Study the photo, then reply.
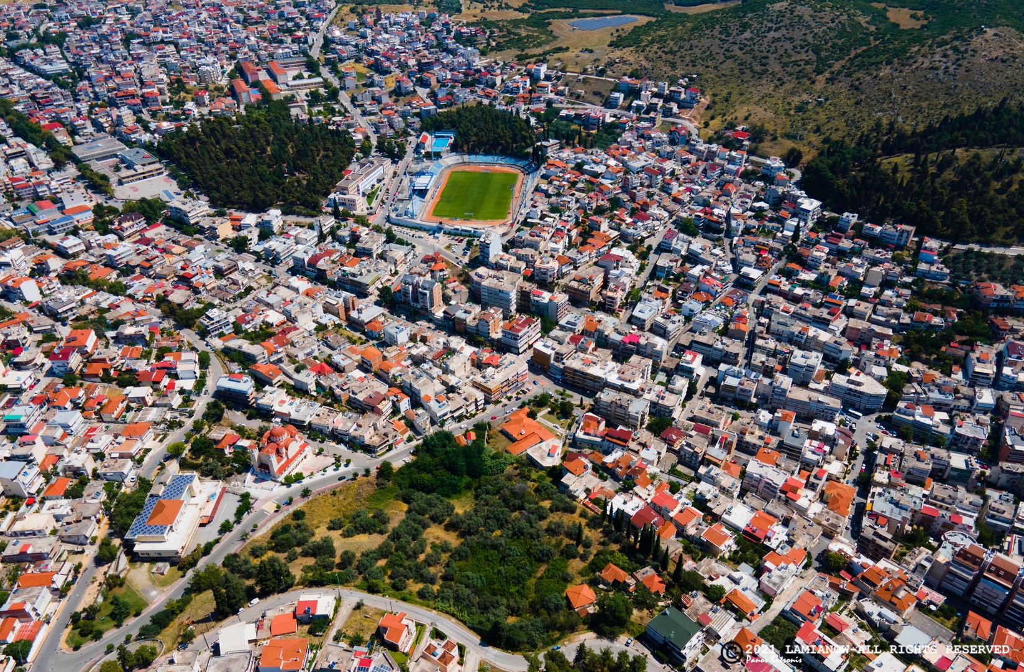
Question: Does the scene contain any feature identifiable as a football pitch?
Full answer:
Yes, there is a football pitch in the image.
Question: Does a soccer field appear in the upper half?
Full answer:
Yes, a soccer field is visible in the upper half.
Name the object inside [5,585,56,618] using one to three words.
building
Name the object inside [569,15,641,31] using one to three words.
solar array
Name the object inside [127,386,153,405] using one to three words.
house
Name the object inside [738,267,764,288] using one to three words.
building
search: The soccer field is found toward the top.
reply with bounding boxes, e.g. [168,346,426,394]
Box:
[432,171,518,219]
